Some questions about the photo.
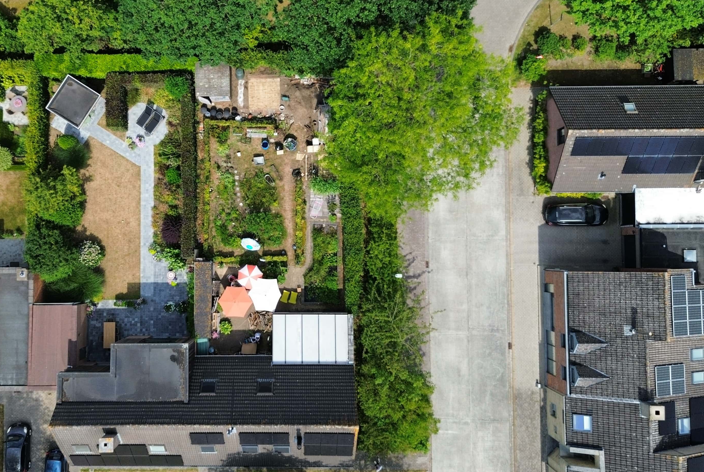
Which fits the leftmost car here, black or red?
black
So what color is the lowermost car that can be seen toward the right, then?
black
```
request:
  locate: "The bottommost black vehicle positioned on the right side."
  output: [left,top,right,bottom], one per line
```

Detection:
[544,196,606,227]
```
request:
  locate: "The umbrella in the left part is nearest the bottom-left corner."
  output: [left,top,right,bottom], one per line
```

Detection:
[219,287,252,317]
